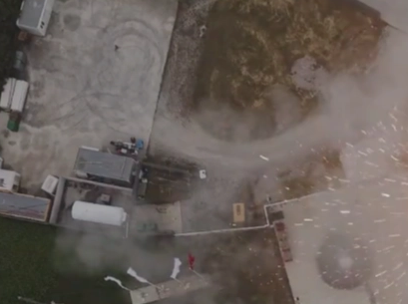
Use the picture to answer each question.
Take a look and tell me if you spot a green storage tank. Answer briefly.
No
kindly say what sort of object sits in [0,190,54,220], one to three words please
shed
